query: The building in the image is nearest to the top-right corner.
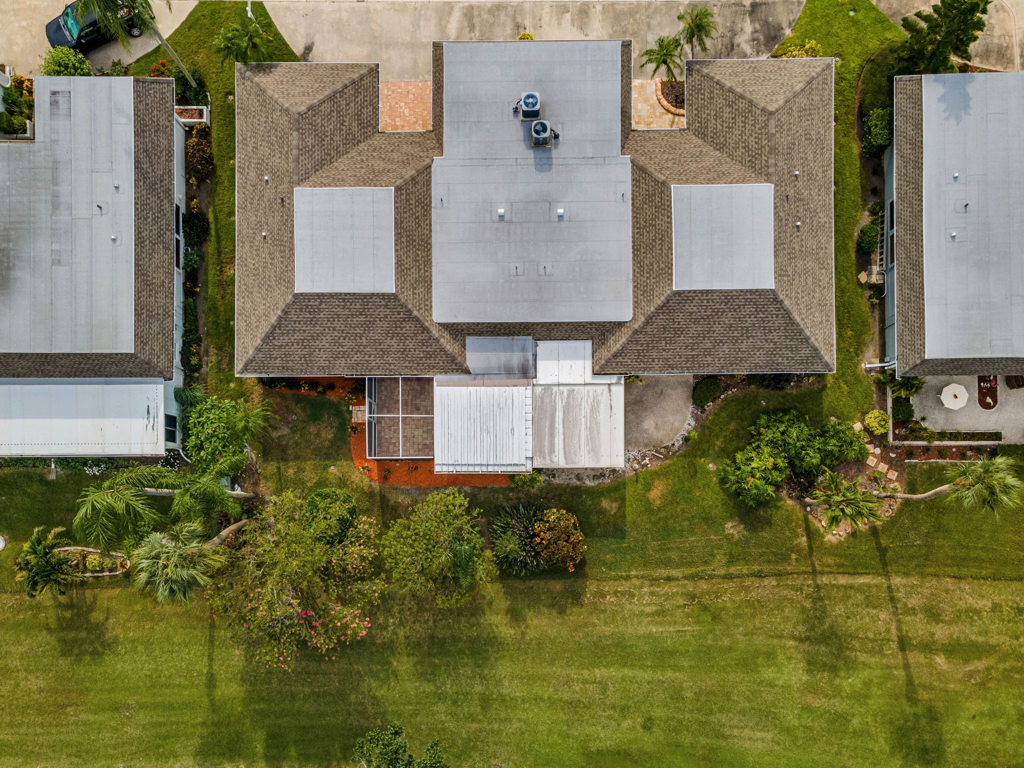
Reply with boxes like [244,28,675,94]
[866,73,1024,380]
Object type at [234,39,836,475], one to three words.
house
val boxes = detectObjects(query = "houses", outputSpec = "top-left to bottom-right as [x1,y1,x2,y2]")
[234,39,836,475]
[866,73,1024,380]
[0,66,195,463]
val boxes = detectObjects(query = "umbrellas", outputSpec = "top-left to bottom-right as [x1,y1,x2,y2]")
[928,383,967,411]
